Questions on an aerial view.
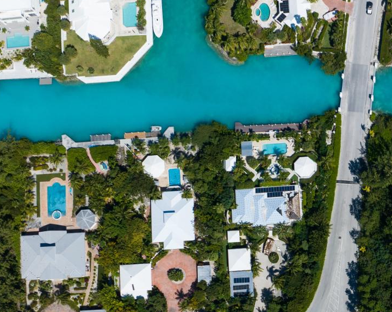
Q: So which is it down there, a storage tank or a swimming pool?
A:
swimming pool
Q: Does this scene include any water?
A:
Yes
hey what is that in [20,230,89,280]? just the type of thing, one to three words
house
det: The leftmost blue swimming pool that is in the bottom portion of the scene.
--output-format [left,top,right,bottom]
[47,181,67,220]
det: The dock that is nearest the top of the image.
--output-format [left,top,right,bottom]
[265,44,297,56]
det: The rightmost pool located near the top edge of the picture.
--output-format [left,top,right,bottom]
[255,2,271,21]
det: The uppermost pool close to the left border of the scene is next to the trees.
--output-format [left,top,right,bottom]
[6,32,30,49]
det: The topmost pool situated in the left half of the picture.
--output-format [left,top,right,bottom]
[122,1,137,27]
